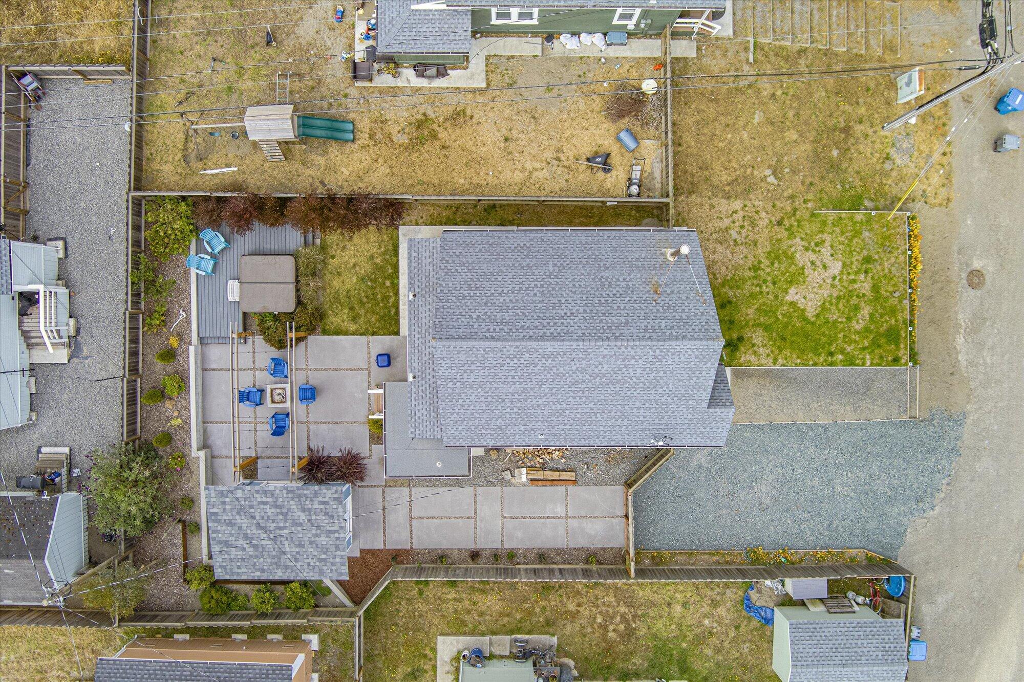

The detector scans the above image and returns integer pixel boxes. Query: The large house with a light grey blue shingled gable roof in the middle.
[383,227,733,479]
